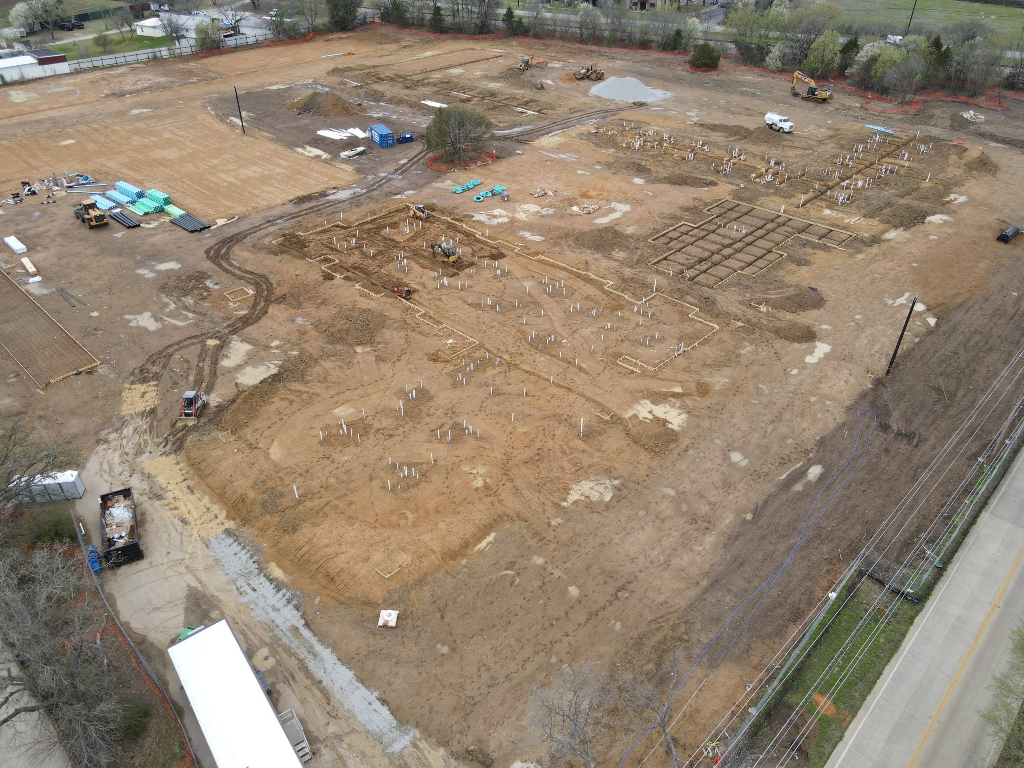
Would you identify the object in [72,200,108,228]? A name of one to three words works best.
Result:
work vehicle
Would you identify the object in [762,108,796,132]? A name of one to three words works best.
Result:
truck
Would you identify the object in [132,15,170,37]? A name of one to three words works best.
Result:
house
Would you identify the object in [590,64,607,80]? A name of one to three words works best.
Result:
work vehicle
